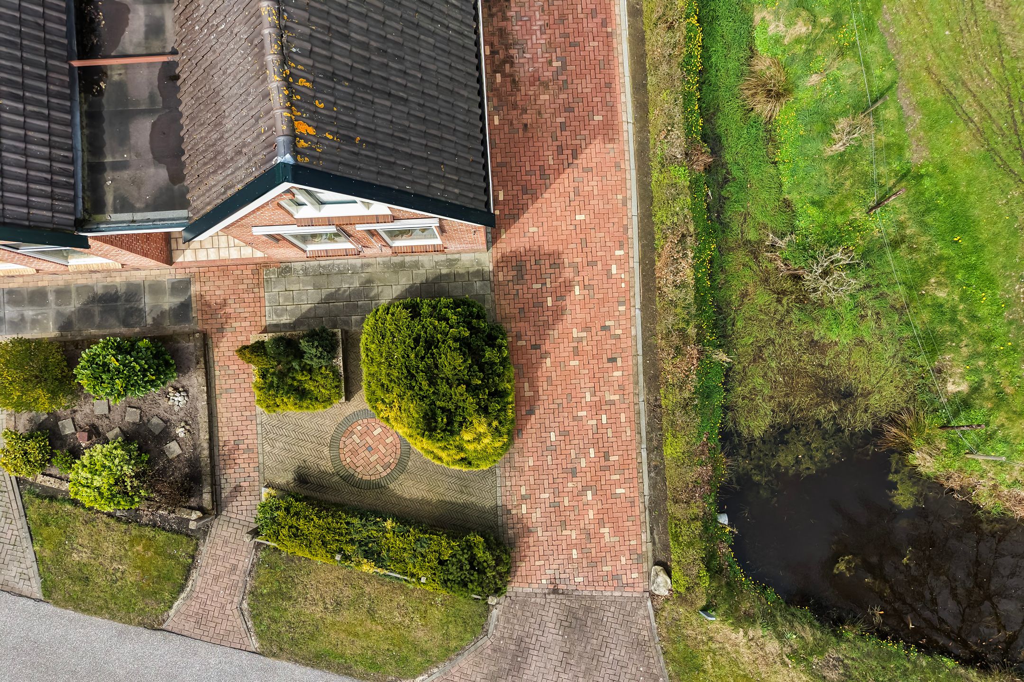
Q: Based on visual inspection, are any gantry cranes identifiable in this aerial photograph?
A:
No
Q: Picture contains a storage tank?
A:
No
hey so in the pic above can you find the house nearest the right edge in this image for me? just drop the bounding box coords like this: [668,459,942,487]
[172,0,504,262]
